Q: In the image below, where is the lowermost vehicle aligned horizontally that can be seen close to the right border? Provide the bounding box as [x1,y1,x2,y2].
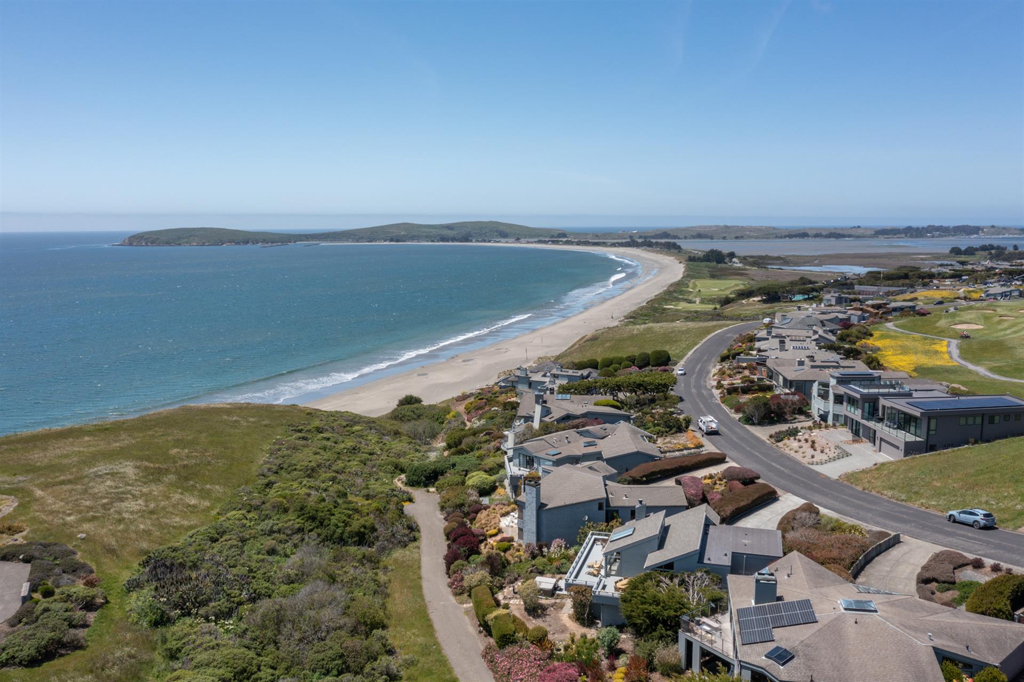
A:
[946,508,1000,531]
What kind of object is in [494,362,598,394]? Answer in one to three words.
house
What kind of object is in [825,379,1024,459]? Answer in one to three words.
house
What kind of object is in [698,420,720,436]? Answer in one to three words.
vehicle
